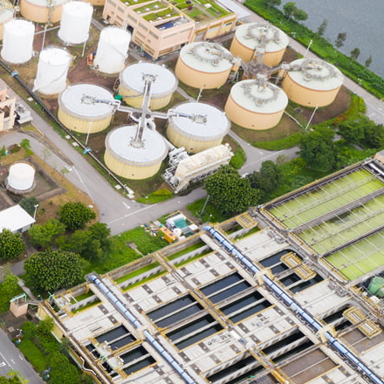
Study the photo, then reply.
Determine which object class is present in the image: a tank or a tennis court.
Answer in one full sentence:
This aerial view contains a tank.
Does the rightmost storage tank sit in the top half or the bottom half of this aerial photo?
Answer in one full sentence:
It is in the top half that the rightmost storage tank appears.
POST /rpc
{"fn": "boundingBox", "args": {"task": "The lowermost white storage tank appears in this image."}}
[0,159,37,193]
